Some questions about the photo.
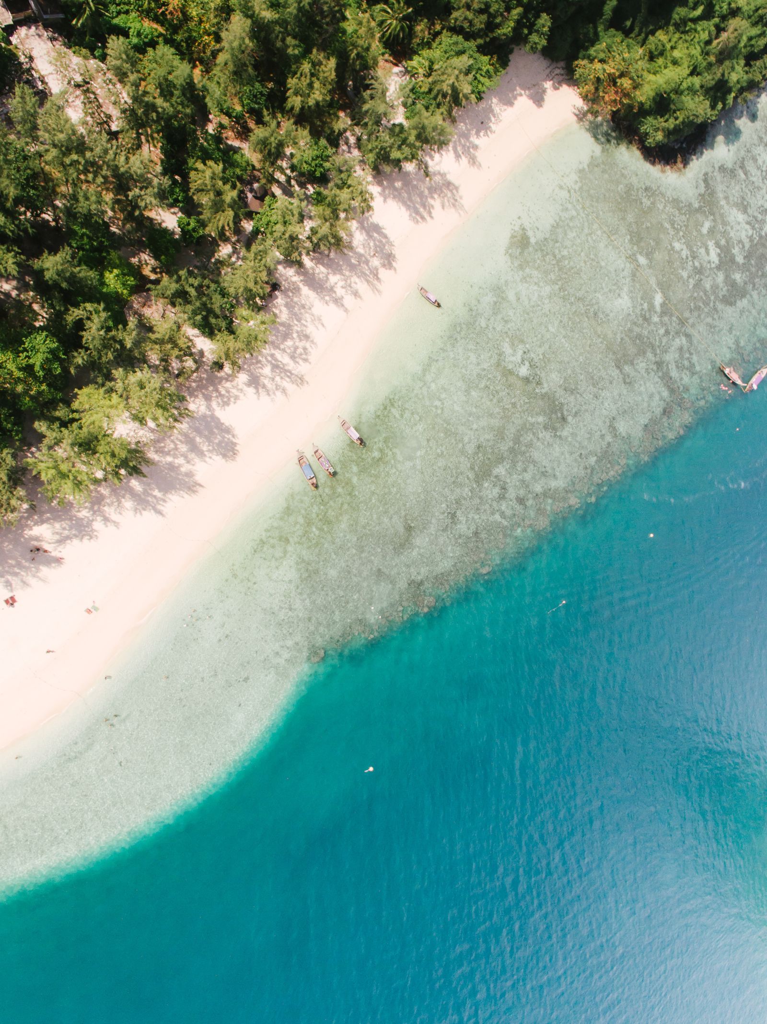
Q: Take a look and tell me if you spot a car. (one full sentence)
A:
No, the scene contains no car.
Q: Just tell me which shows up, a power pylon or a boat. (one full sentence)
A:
The image shows a boat.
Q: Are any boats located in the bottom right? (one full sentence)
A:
No, no boat appears in the bottom right.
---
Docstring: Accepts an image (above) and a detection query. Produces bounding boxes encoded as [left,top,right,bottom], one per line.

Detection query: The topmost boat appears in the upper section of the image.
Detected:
[417,281,448,316]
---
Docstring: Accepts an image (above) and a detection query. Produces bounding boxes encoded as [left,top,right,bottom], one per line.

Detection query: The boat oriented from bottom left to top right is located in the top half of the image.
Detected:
[746,364,767,393]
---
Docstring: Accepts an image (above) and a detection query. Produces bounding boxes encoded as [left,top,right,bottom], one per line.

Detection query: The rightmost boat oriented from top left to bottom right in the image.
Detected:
[720,362,753,385]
